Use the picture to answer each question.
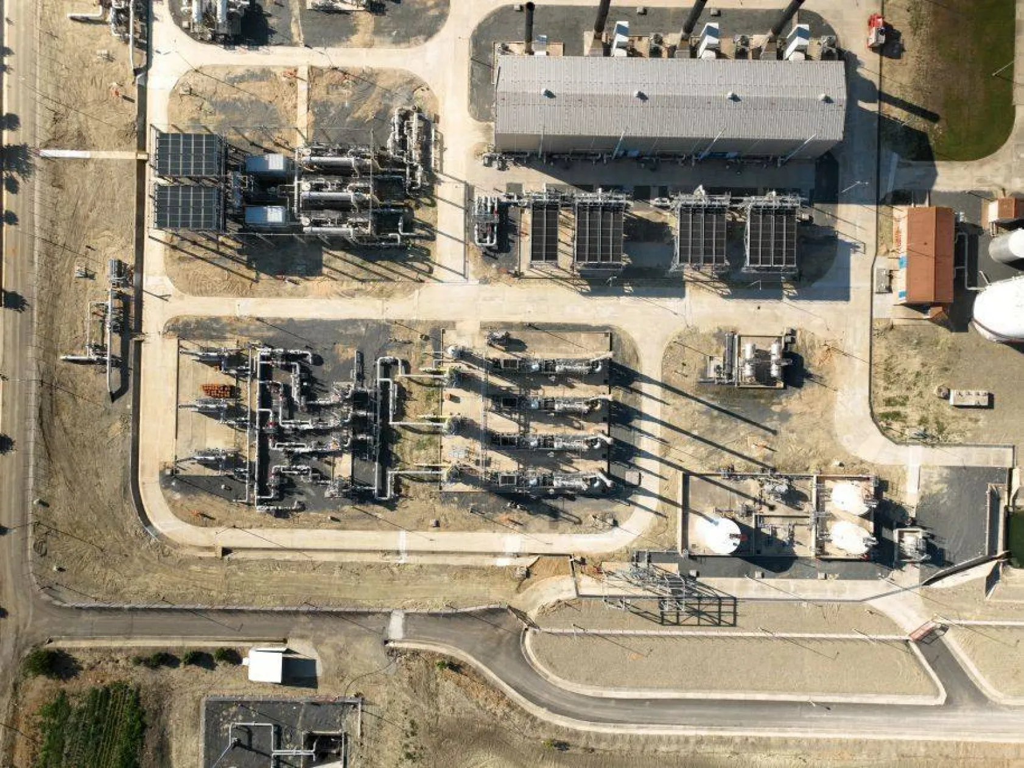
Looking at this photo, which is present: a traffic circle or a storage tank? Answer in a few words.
storage tank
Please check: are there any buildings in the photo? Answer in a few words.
Yes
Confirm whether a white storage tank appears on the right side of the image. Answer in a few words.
Yes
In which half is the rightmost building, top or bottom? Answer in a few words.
top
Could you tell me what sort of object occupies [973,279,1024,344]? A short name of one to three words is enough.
storage tank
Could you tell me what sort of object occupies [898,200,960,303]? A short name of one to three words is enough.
building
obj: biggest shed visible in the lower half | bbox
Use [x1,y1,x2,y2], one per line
[245,643,288,683]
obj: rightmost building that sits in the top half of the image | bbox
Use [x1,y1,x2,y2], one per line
[990,196,1024,226]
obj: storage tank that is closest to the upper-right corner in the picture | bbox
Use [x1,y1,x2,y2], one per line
[990,227,1024,262]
